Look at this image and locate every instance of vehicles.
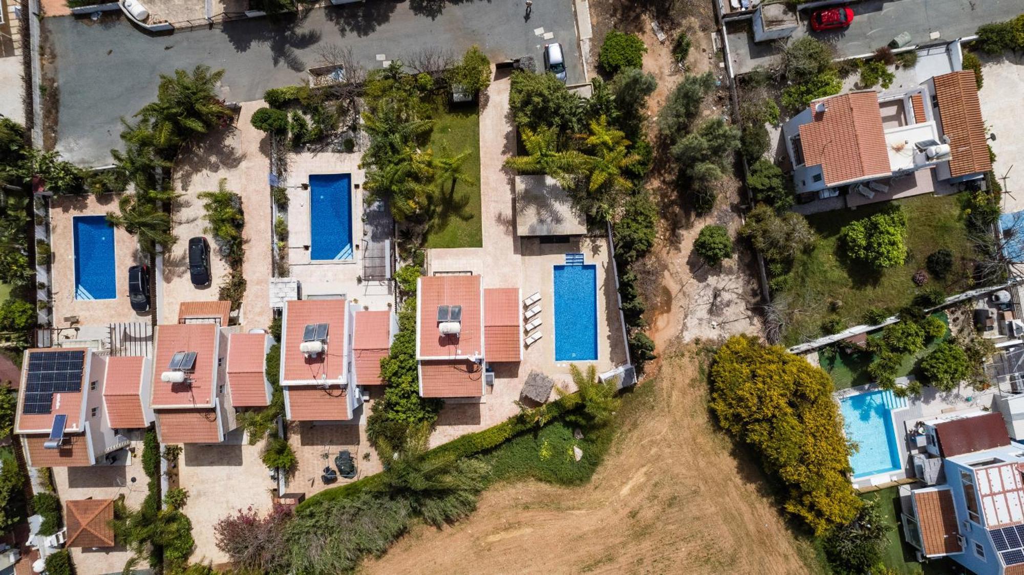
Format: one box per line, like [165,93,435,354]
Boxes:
[125,264,150,312]
[808,6,852,33]
[543,40,568,86]
[186,238,214,286]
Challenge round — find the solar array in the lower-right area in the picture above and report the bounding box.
[988,525,1024,556]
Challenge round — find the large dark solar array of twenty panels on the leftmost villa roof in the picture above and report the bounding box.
[23,351,85,414]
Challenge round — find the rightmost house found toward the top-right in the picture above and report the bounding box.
[782,69,993,194]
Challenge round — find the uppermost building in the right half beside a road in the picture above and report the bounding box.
[753,4,800,43]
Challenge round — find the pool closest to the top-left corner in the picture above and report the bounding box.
[71,214,118,301]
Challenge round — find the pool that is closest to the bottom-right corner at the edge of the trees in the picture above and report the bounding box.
[835,386,911,484]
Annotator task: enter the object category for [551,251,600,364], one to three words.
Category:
swimming pool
